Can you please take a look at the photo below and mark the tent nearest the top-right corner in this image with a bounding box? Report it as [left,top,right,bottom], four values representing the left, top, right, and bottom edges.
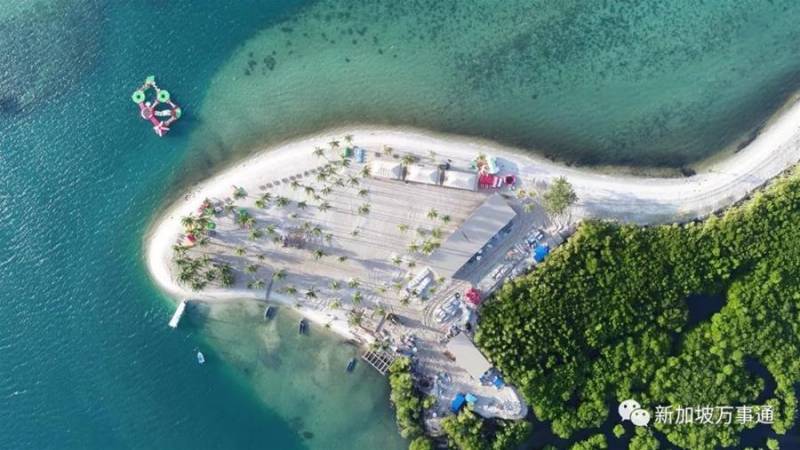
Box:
[442,169,477,191]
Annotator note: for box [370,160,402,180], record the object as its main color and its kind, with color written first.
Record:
white tent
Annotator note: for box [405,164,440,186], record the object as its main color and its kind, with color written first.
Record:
white tent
